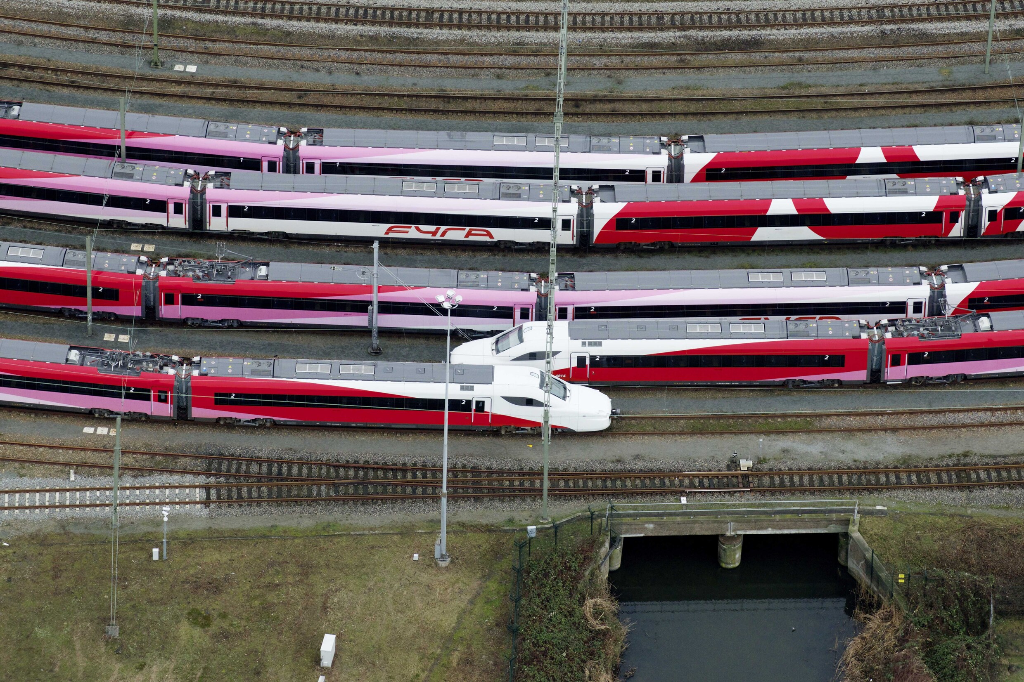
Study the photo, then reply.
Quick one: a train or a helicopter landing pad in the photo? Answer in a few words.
train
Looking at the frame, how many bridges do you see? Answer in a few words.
1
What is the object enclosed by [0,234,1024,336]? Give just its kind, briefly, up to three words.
train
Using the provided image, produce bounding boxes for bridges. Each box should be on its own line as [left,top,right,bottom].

[605,507,858,562]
